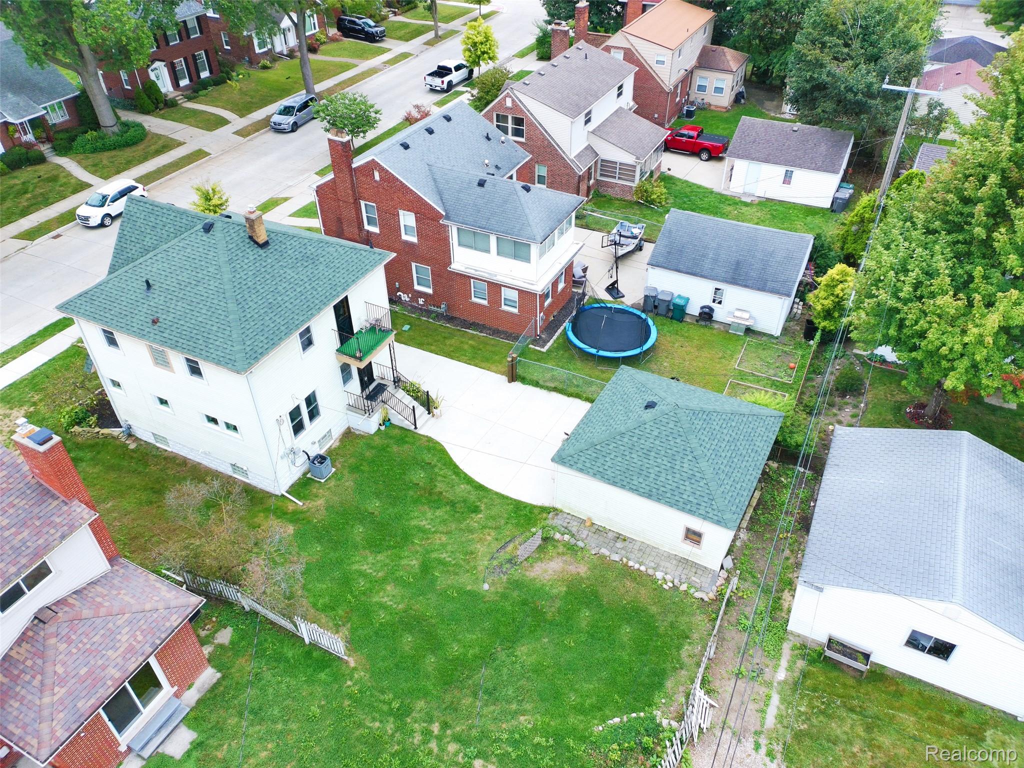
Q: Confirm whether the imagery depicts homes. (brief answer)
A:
Yes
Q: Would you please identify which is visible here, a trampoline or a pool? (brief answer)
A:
trampoline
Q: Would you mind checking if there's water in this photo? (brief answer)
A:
No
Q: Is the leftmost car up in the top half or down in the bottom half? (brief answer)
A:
top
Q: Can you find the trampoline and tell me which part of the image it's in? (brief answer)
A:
center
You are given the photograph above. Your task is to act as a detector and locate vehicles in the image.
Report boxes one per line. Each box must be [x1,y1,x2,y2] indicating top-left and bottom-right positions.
[664,121,734,159]
[77,180,154,227]
[426,59,478,91]
[333,17,384,43]
[269,93,327,132]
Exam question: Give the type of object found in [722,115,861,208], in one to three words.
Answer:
building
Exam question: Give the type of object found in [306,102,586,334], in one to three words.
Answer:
house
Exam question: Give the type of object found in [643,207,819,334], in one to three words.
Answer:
building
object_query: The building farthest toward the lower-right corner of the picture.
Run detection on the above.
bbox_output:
[786,427,1024,722]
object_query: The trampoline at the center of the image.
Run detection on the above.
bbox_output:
[563,276,658,371]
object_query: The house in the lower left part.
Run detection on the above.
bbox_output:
[0,420,214,768]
